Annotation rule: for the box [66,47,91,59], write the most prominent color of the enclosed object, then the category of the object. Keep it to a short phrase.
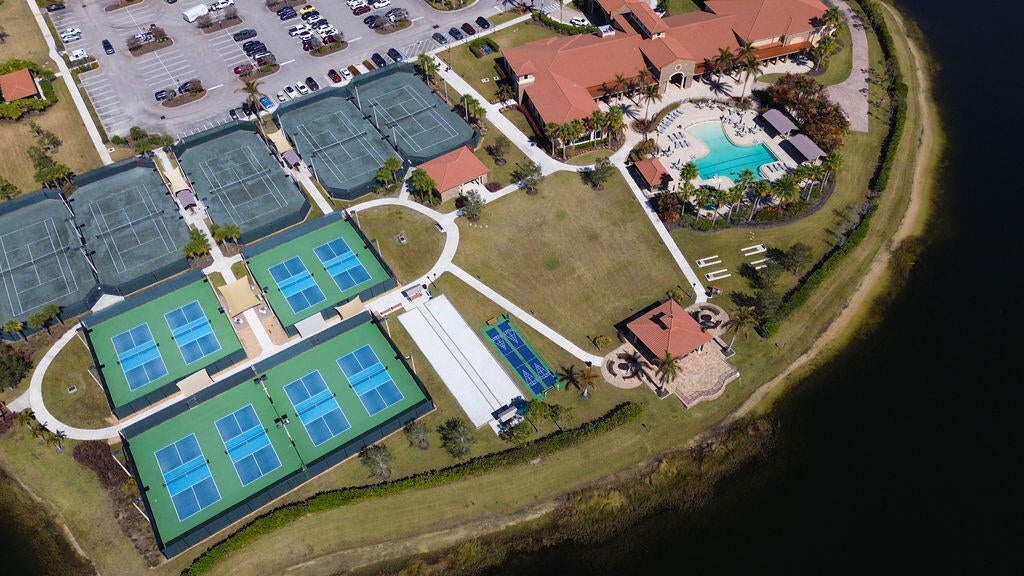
white vehicle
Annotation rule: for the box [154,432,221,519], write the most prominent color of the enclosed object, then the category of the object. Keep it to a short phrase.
blue sports court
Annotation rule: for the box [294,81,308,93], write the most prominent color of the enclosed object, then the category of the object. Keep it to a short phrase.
white vehicle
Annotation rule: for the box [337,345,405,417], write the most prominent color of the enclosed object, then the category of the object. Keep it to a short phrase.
blue sports court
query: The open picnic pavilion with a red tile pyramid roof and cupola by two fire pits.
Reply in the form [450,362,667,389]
[627,299,712,369]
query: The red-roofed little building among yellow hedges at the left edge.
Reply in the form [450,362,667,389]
[0,68,40,109]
